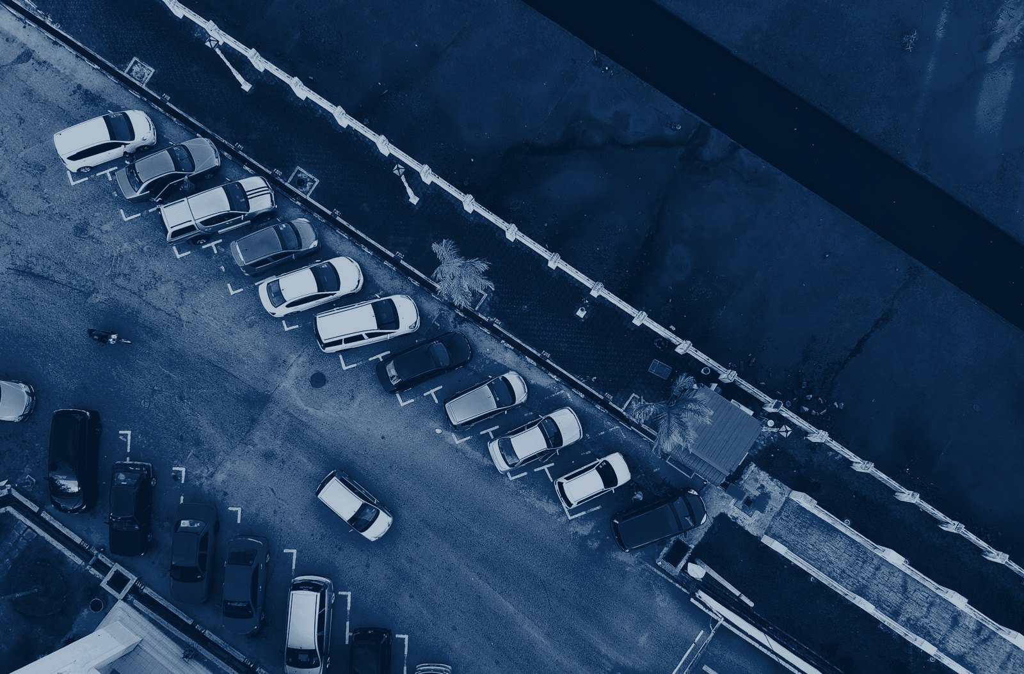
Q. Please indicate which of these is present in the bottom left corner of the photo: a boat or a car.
car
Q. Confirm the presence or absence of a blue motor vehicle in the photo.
Yes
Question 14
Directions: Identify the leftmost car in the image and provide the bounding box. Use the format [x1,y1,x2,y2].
[0,380,38,421]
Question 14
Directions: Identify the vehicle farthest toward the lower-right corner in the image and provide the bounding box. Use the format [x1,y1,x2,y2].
[610,490,708,554]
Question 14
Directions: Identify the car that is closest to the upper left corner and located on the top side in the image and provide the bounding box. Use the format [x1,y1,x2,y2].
[50,111,159,177]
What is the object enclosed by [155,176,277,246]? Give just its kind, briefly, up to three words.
truck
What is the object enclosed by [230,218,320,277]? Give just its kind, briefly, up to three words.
car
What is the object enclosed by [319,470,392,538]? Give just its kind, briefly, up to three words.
car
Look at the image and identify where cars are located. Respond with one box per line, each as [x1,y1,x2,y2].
[377,334,473,393]
[258,260,365,321]
[115,139,222,203]
[50,111,159,177]
[348,627,393,674]
[313,295,421,356]
[0,380,38,421]
[319,470,392,538]
[281,576,335,674]
[445,373,529,432]
[230,218,320,277]
[101,464,158,554]
[162,504,220,603]
[556,455,631,510]
[43,412,106,513]
[489,408,585,474]
[610,490,708,554]
[214,536,271,633]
